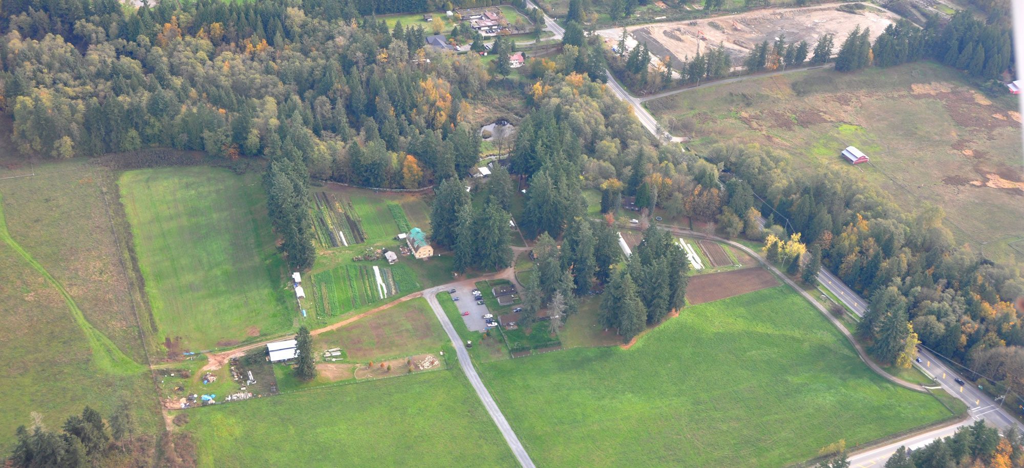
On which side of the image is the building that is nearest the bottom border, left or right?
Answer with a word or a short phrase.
left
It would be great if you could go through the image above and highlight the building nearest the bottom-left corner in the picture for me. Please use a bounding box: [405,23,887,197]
[266,337,301,364]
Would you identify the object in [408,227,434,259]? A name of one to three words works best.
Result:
barn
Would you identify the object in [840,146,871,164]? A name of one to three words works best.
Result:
barn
